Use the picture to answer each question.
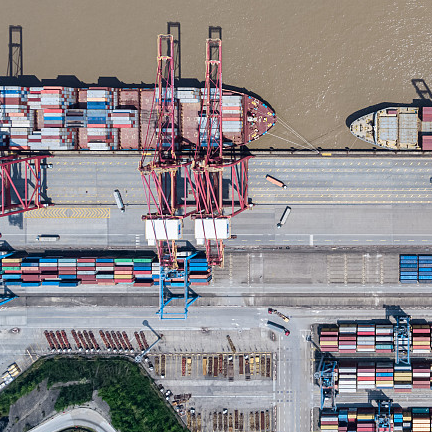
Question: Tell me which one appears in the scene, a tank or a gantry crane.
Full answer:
I can see a gantry crane in this picture.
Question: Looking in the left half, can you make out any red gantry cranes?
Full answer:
Yes, the scene does show a red gantry crane in the left half.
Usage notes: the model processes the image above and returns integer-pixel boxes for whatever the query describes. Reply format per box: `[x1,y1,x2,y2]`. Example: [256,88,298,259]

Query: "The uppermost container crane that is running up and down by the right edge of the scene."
[392,307,412,362]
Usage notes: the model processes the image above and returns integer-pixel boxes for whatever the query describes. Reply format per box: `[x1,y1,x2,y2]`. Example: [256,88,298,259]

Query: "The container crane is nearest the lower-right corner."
[377,387,395,432]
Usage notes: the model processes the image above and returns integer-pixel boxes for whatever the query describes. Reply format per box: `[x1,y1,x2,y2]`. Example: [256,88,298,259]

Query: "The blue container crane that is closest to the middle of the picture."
[159,253,200,319]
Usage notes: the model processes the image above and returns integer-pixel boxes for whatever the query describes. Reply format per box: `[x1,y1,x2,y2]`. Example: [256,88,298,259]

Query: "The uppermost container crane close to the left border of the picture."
[0,156,58,237]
